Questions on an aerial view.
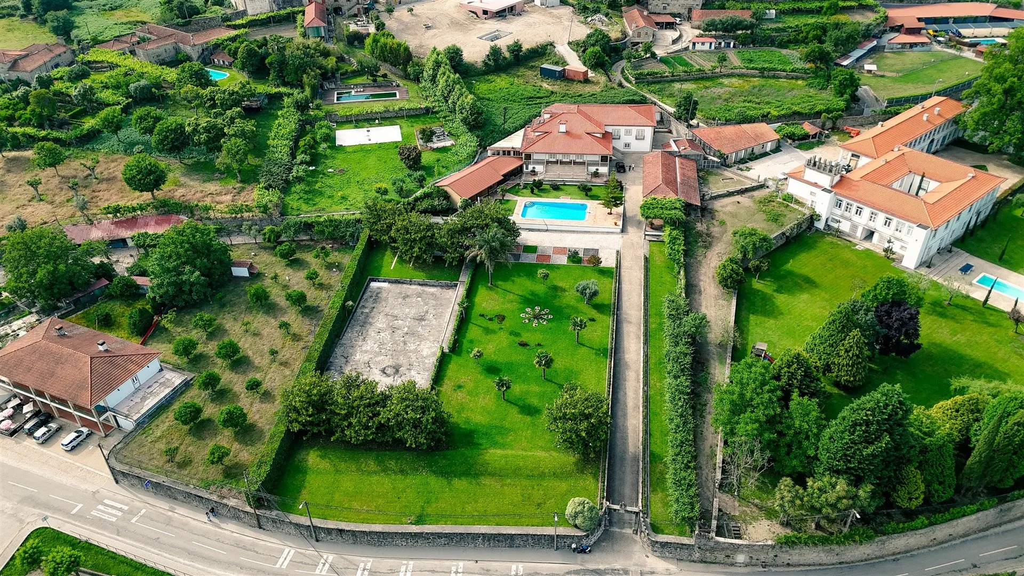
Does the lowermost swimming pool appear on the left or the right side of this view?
right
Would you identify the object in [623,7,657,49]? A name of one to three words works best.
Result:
house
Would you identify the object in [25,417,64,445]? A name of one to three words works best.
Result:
car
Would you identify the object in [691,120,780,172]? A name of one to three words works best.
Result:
barn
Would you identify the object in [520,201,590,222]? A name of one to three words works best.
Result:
swimming pool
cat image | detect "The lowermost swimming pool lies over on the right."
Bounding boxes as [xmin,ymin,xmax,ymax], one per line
[970,269,1024,302]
